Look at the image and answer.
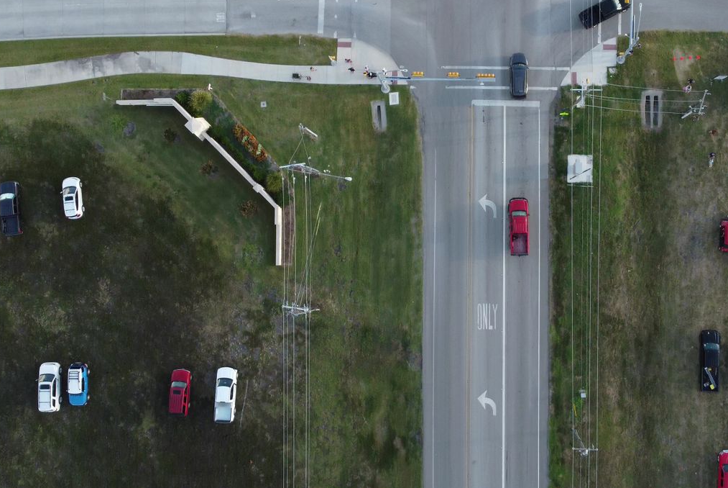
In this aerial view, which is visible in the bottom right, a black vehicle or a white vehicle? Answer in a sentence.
The one visible in the bottom right is a black vehicle.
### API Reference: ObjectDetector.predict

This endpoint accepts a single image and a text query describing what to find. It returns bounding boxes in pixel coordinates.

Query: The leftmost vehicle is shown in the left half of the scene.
[0,181,26,237]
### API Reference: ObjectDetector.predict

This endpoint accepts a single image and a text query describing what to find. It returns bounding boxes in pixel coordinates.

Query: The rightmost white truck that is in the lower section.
[213,367,238,425]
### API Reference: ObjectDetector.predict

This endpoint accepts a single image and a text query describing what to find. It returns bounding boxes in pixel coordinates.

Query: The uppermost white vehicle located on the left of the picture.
[60,178,87,219]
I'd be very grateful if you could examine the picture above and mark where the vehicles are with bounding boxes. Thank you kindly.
[698,329,724,392]
[508,198,530,257]
[65,361,91,407]
[167,368,193,417]
[0,181,26,237]
[36,362,63,413]
[717,219,728,254]
[508,53,530,98]
[213,367,238,425]
[717,449,728,488]
[60,178,87,219]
